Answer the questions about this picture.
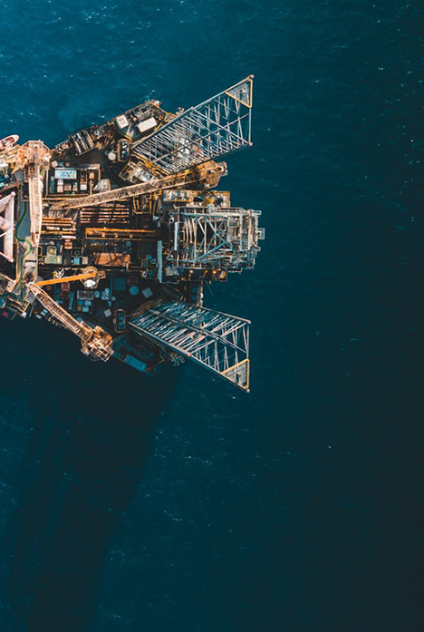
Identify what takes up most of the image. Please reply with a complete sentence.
For the most part, this view shows water.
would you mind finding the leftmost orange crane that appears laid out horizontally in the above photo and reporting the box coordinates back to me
[34,268,97,287]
